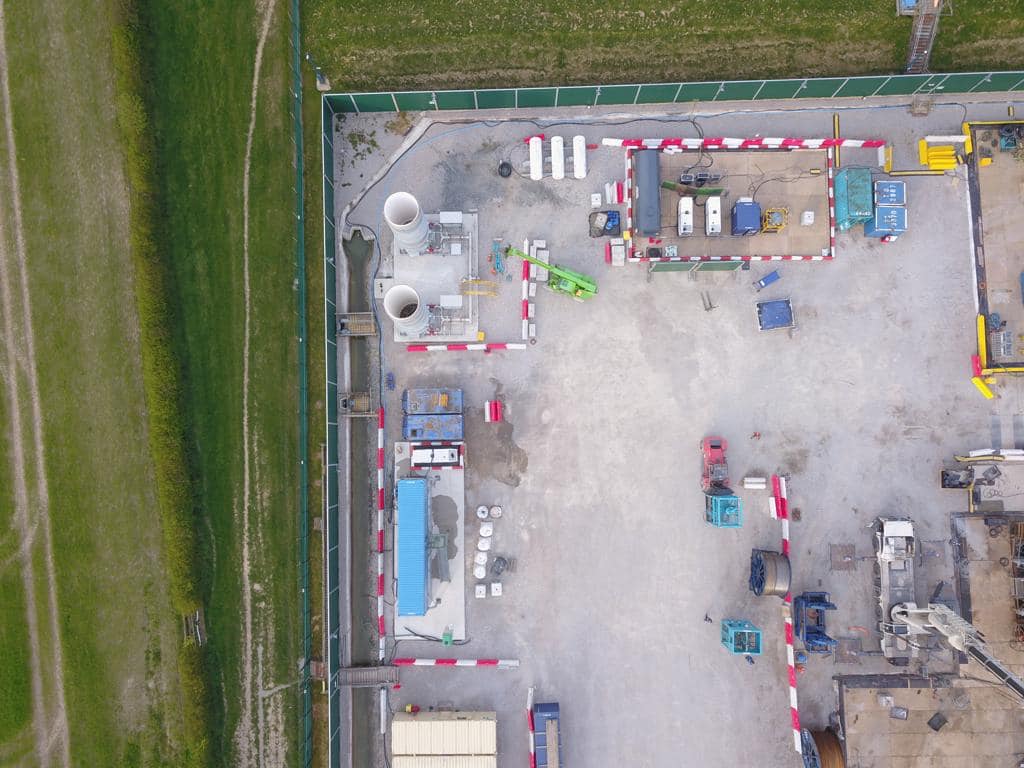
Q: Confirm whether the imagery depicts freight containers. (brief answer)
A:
Yes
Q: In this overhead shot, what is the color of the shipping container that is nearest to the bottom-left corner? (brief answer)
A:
blue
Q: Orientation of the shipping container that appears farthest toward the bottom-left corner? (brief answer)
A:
from top to bottom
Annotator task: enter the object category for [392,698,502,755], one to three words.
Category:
building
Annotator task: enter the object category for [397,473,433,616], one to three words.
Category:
shipping container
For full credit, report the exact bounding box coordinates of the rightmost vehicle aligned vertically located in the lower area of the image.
[700,437,729,498]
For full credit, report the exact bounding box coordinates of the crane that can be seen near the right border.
[849,517,1024,701]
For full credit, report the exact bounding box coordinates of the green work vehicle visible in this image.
[505,243,599,301]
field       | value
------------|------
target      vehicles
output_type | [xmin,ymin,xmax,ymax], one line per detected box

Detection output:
[700,437,729,498]
[505,243,599,301]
